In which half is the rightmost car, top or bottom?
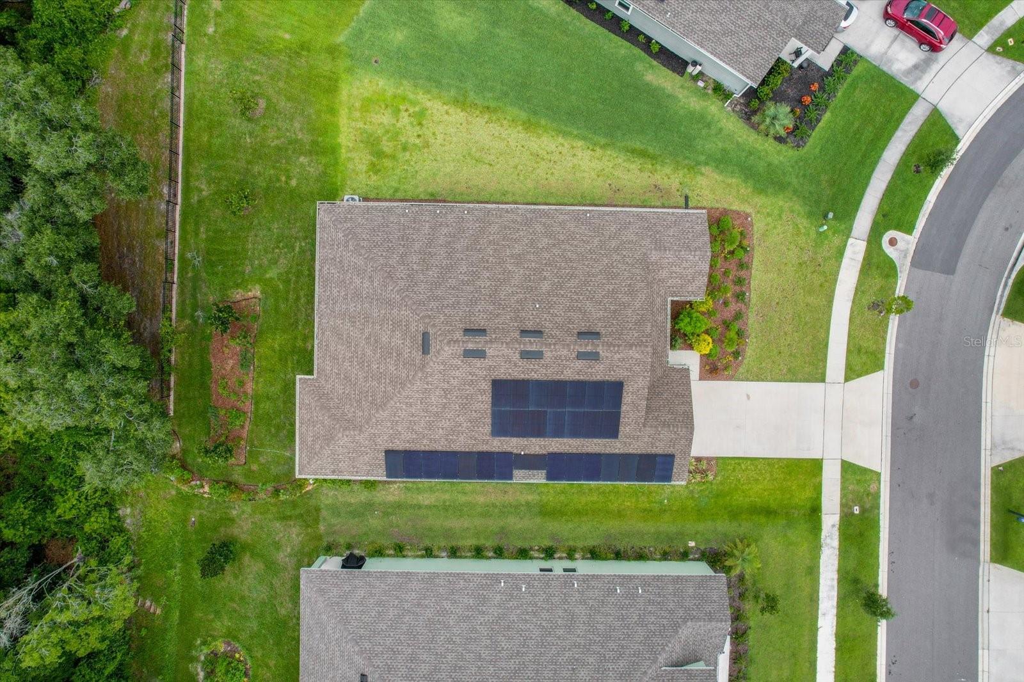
top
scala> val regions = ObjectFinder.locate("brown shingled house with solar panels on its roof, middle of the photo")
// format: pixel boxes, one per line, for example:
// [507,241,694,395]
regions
[294,202,712,485]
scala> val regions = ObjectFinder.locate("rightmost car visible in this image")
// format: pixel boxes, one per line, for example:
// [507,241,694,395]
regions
[878,0,961,54]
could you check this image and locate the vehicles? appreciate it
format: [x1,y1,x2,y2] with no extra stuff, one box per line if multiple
[878,0,961,54]
[835,0,863,31]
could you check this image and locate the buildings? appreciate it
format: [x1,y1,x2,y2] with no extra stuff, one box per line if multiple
[294,202,712,485]
[299,557,731,682]
[595,0,847,98]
